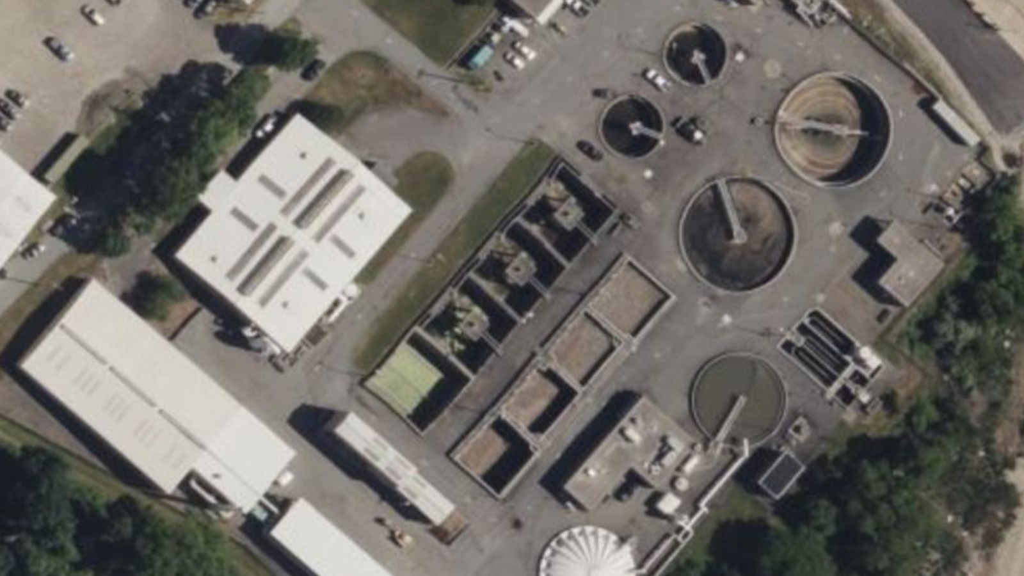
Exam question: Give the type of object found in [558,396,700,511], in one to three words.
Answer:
building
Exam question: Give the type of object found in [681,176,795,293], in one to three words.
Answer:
storage tank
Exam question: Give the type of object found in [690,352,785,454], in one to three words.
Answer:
storage tank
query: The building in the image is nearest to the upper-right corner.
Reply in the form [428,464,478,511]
[870,220,944,306]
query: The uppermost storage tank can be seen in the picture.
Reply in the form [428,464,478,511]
[664,22,726,85]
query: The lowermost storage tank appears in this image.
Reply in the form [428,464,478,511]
[540,524,648,576]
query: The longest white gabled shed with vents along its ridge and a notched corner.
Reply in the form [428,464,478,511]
[18,280,295,513]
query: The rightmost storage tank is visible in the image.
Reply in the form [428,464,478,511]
[774,72,890,188]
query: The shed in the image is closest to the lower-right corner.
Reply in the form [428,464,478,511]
[751,451,805,499]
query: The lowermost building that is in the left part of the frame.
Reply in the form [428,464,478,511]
[266,497,392,576]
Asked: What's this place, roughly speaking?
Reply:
industrial area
